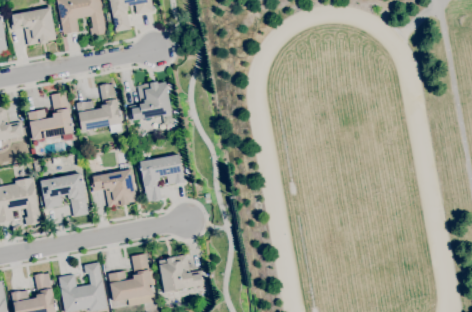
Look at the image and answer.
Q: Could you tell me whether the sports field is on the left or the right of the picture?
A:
right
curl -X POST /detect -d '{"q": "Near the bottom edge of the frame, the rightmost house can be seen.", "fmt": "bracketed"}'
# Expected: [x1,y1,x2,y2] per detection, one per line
[158,260,205,301]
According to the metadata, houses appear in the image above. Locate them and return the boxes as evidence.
[56,0,104,36]
[76,82,122,134]
[106,253,158,312]
[10,272,56,312]
[140,155,184,202]
[0,280,8,312]
[58,262,106,312]
[27,93,74,154]
[11,6,54,44]
[0,106,24,142]
[90,170,136,208]
[158,260,205,301]
[40,174,86,218]
[132,80,174,130]
[110,0,154,30]
[0,176,40,226]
